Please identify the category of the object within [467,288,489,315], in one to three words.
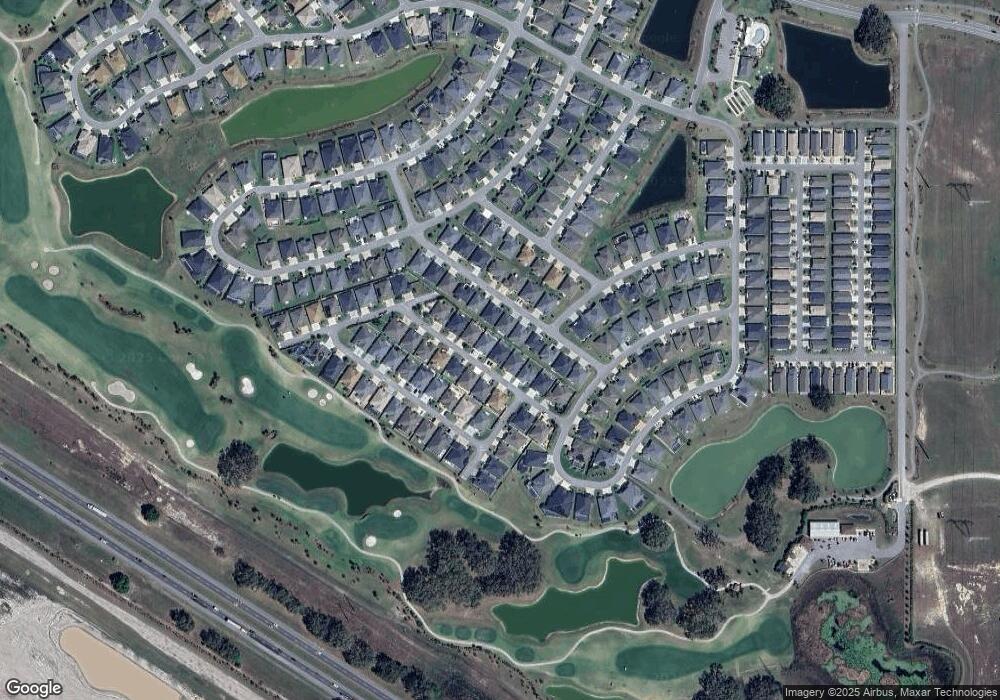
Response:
house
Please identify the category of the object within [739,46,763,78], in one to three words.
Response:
building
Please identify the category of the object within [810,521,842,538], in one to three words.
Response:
barn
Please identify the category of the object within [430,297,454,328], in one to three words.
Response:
house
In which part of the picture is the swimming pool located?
top right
